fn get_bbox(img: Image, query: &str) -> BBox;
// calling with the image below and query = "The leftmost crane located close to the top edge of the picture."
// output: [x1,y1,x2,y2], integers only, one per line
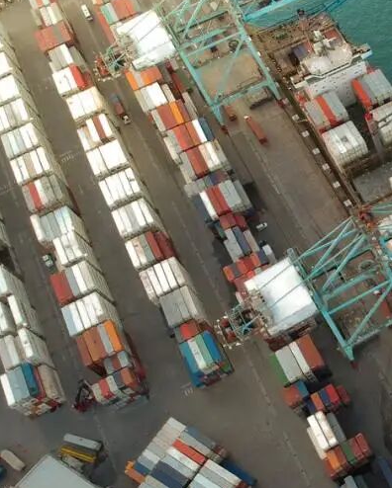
[93,0,301,135]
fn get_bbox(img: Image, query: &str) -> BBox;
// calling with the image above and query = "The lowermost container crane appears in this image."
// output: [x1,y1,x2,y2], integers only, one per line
[210,205,392,372]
